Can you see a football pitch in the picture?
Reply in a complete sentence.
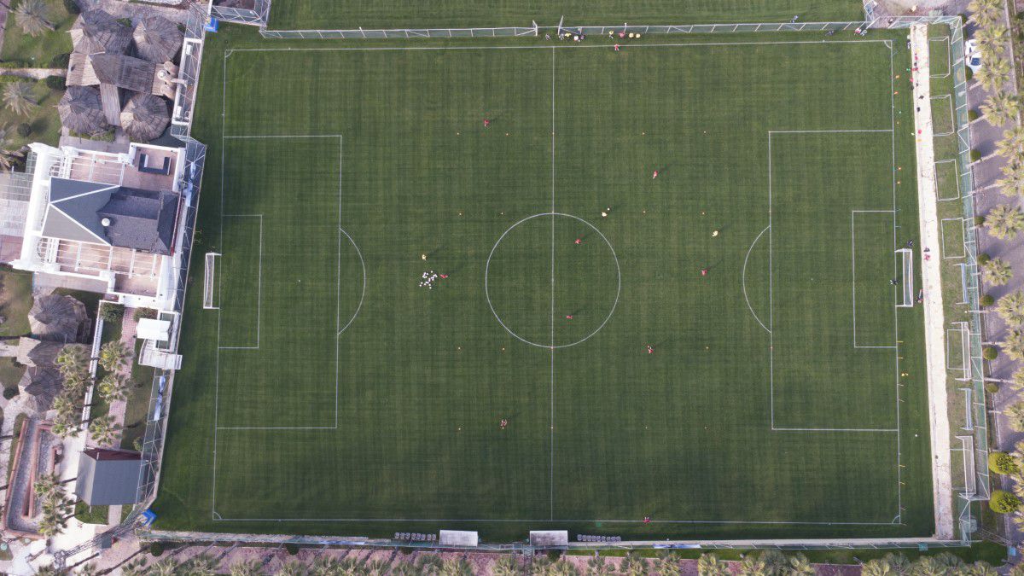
Yes, looking at the shot, I can spot a football pitch.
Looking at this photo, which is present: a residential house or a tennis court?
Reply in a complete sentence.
It is a residential house that can be seen here.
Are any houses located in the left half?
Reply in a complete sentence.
Yes, a house is visible in the left half.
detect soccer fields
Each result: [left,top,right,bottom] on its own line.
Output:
[267,0,864,37]
[147,21,935,544]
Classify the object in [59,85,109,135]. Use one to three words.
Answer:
shed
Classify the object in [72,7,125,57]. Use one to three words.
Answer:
shed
